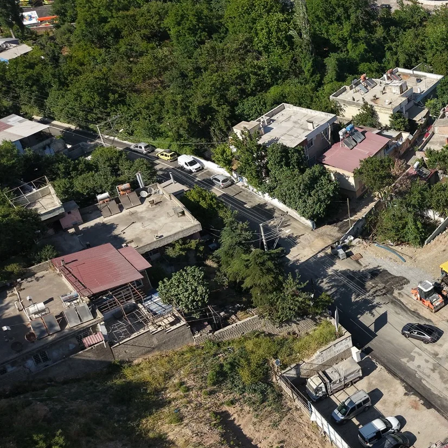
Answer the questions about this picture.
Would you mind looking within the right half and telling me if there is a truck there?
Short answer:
Yes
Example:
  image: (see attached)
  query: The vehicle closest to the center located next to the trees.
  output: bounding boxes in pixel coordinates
[205,171,234,187]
